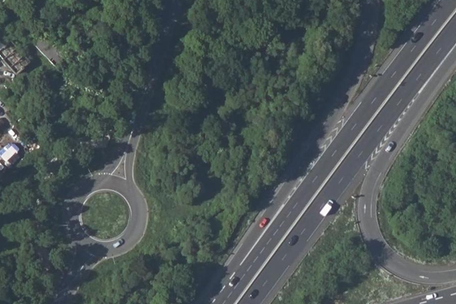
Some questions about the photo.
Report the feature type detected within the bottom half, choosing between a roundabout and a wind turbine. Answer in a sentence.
The one visible within the bottom half is a roundabout.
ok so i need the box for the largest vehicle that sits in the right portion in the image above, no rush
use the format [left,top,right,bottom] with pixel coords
[320,200,334,216]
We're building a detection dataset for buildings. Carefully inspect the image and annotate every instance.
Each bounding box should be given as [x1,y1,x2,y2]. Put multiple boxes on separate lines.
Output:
[0,46,30,74]
[36,38,64,66]
[0,143,18,163]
